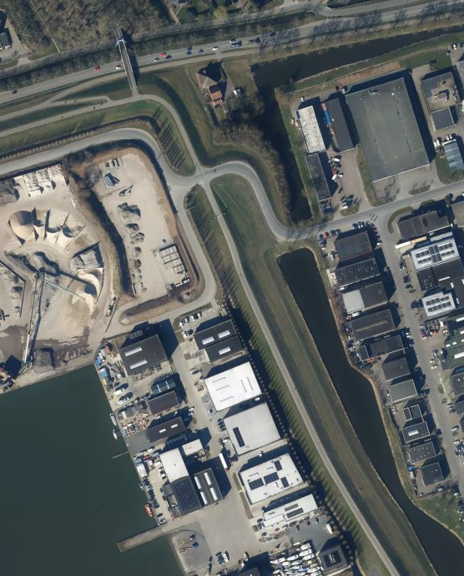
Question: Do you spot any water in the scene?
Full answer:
Yes, water shows up in the scene.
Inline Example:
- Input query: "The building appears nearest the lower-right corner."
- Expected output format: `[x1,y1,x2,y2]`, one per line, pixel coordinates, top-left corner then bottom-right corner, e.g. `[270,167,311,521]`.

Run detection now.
[421,462,444,487]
